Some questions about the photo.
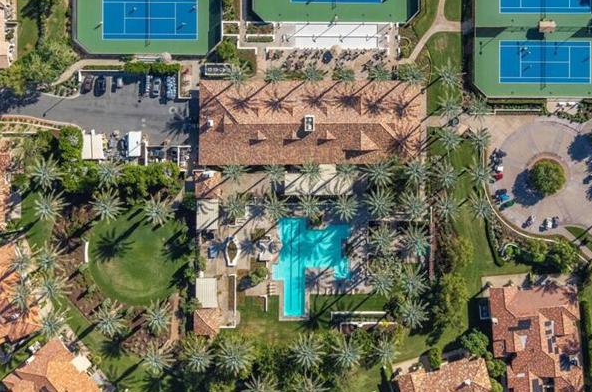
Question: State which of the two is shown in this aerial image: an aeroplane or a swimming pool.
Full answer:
Looking from above, you can make out a swimming pool.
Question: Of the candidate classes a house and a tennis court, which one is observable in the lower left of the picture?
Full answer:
There is a house in the lower left of the picture.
